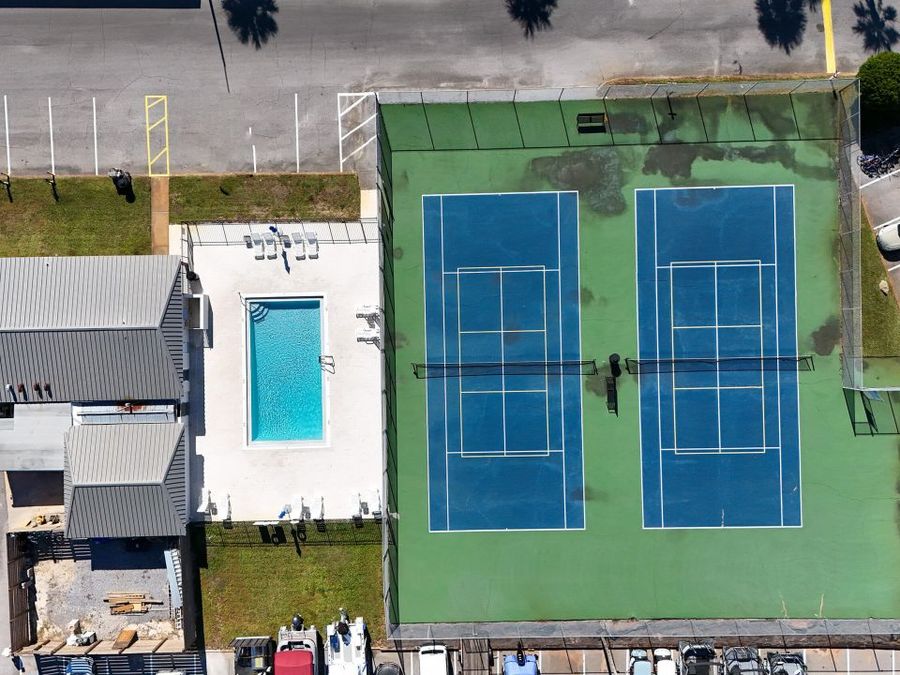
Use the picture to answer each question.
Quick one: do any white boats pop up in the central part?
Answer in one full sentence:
No, no white boat appears in the central part.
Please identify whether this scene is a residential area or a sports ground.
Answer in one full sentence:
It's a sports ground.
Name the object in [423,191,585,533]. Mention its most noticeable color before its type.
blue tennis court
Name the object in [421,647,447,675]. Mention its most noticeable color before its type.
white car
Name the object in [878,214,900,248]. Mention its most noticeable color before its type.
white car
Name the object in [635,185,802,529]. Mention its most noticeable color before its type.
blue tennis court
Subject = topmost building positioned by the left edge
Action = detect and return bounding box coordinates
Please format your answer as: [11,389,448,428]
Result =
[0,255,194,402]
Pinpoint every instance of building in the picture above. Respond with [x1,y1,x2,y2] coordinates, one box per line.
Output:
[0,255,194,402]
[63,420,197,539]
